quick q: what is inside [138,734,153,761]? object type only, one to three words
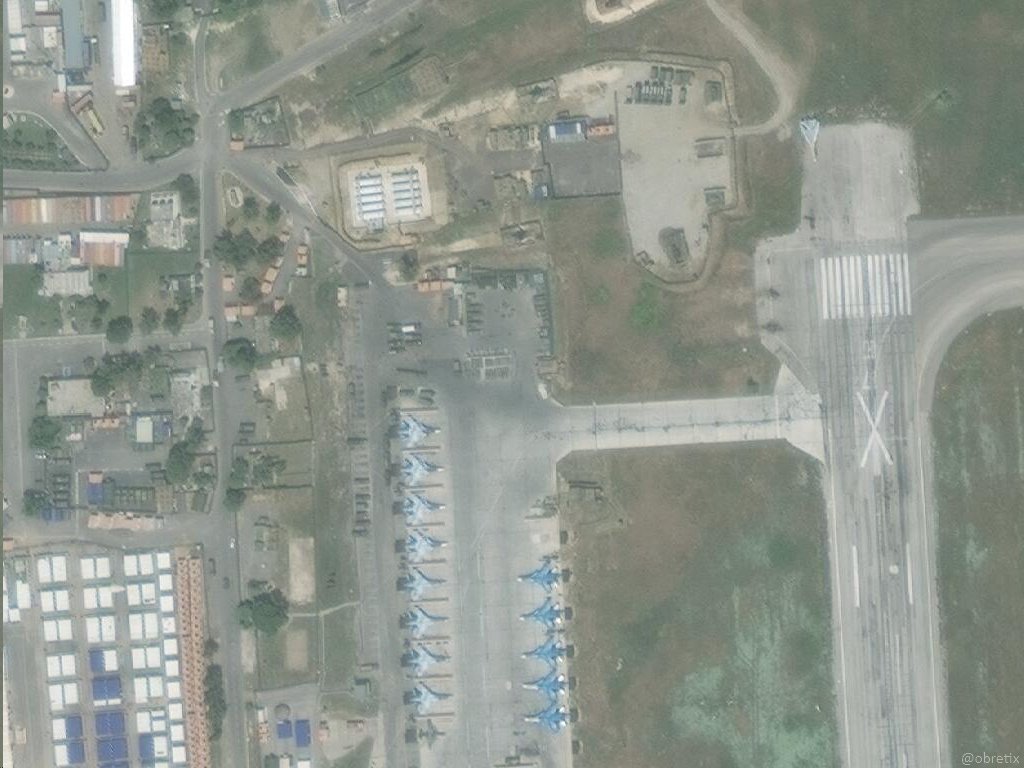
shed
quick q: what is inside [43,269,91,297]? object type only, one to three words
building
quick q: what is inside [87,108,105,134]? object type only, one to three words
vehicle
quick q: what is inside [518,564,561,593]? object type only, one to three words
airplane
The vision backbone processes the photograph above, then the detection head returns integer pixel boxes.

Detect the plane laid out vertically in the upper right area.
[801,119,820,160]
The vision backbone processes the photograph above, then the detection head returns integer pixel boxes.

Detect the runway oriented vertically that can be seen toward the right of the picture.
[756,122,953,768]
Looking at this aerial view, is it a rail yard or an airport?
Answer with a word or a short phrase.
airport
